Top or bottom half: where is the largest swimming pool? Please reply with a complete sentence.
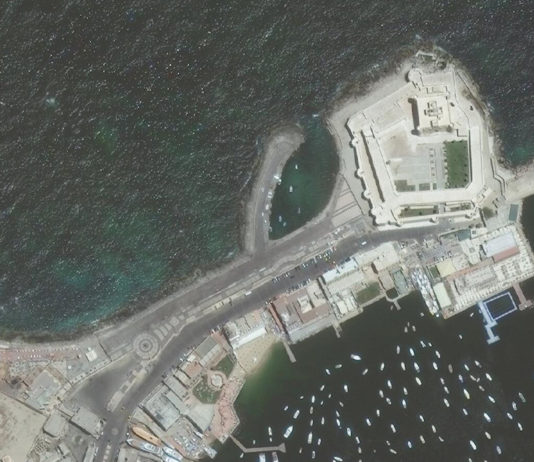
The largest swimming pool is in the bottom half of the image.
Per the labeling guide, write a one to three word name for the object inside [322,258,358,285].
building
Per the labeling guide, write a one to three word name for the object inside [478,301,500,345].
pier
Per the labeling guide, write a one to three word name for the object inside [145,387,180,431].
shed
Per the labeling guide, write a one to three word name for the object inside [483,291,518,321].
swimming pool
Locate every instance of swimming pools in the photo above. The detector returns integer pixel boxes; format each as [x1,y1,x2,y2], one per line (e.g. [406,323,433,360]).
[483,291,518,321]
[507,203,519,222]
